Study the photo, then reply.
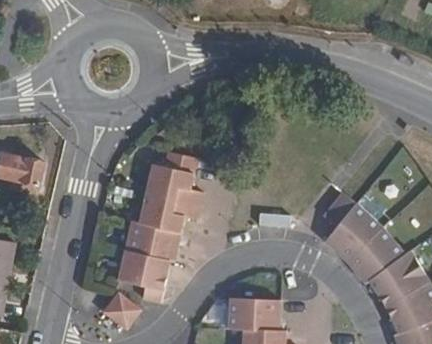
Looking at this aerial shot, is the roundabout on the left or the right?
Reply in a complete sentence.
It is on the left.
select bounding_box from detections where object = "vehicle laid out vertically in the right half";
[286,268,298,290]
